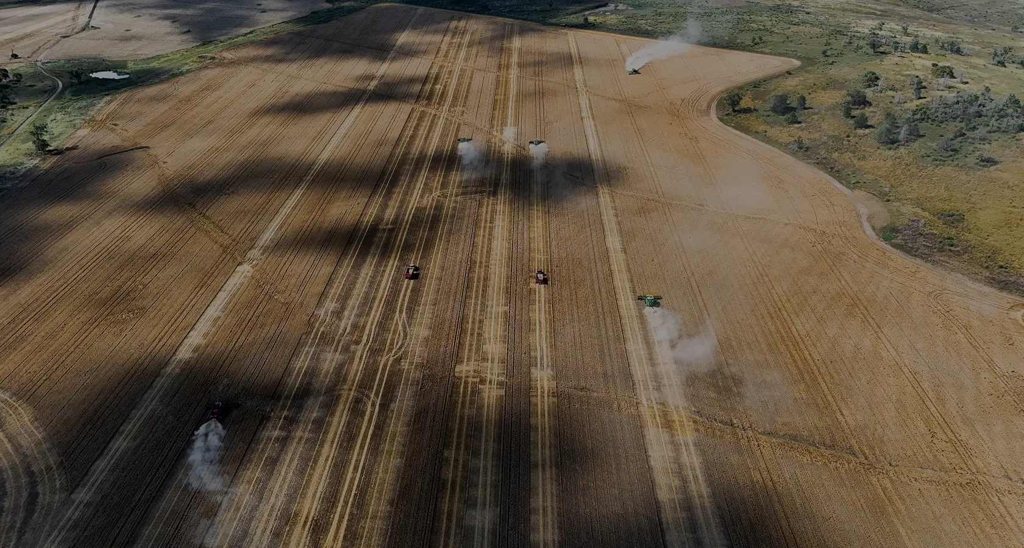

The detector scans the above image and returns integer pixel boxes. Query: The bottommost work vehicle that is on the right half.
[636,295,662,311]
